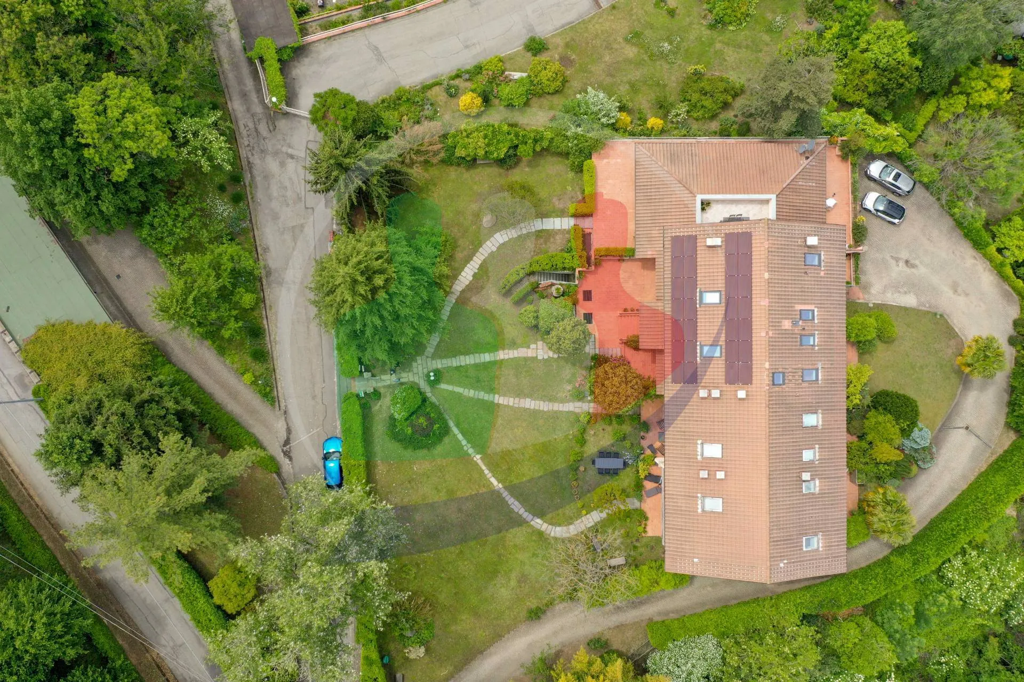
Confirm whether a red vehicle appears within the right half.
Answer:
No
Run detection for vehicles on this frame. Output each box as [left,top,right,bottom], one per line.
[319,436,344,488]
[860,160,920,197]
[857,191,912,226]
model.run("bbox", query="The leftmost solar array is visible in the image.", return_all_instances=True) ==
[671,234,697,384]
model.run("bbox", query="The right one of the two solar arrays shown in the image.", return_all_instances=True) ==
[726,231,752,385]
